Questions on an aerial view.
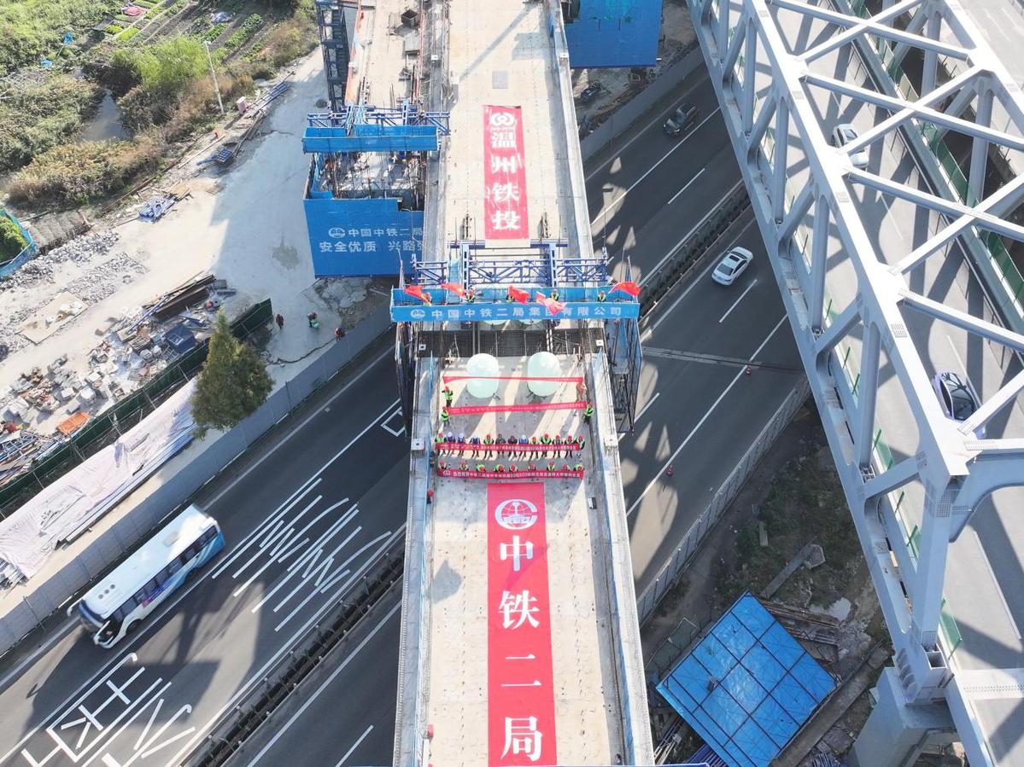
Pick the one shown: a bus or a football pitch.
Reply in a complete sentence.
Looking from above, you can make out a bus.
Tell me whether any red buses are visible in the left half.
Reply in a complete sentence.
No, no red bus can be made out in the left half.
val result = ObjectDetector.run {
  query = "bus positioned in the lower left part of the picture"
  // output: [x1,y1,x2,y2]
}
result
[52,487,231,647]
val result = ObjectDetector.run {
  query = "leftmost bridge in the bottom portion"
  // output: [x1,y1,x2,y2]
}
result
[395,343,649,767]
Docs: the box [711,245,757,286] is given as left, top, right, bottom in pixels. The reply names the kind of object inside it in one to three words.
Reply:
car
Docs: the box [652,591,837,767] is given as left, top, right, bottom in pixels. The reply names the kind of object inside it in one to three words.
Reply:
shed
